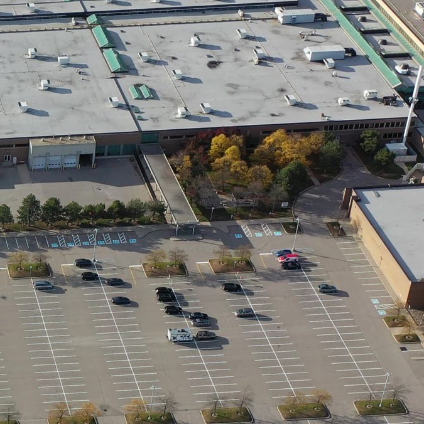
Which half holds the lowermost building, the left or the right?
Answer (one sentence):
You can find the lowermost building on the right side of the picture.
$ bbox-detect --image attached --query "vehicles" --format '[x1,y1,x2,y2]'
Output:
[164,305,184,314]
[157,292,177,303]
[105,278,125,286]
[317,284,338,293]
[111,297,131,305]
[194,330,216,340]
[153,285,173,296]
[221,283,241,292]
[187,312,208,320]
[274,249,293,257]
[33,280,53,290]
[191,319,211,327]
[279,252,299,263]
[281,260,302,270]
[74,258,93,267]
[80,271,99,280]
[234,307,256,318]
